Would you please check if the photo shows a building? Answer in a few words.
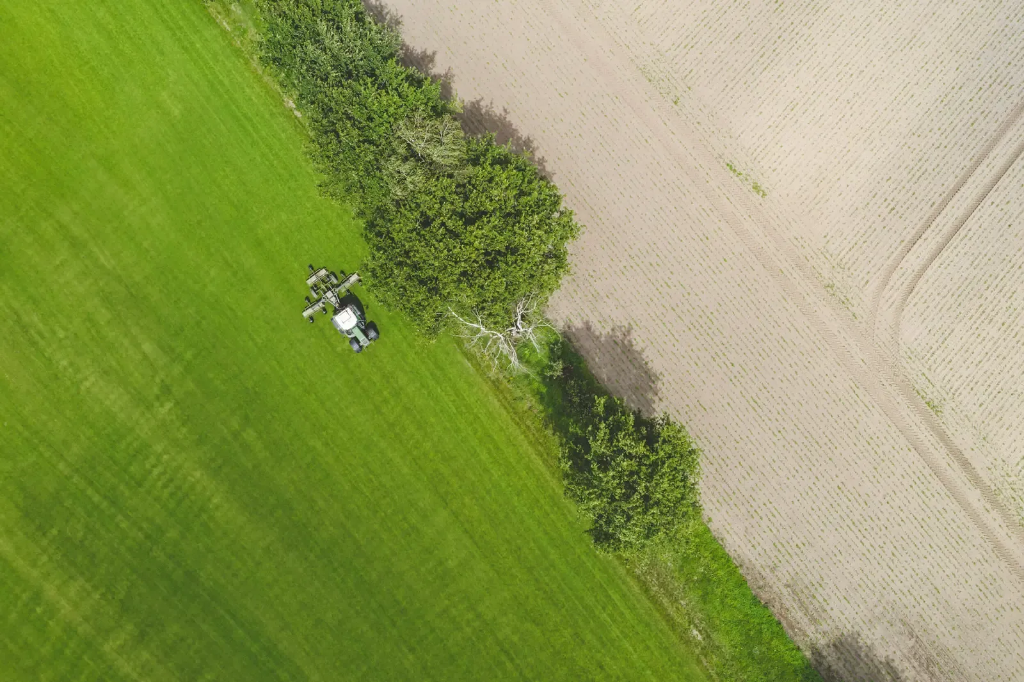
No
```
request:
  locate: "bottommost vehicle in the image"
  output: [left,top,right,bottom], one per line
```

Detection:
[330,300,380,355]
